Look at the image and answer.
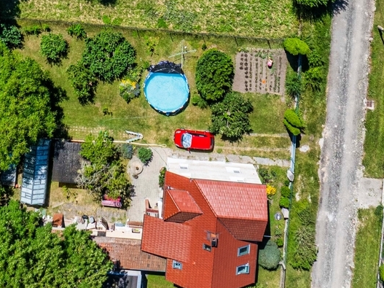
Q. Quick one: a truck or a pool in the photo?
pool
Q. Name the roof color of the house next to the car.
red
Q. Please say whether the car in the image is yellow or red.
red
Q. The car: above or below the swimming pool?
below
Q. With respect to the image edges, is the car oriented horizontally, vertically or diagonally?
horizontally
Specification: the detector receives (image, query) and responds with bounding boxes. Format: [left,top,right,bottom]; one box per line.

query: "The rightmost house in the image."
[140,153,268,288]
